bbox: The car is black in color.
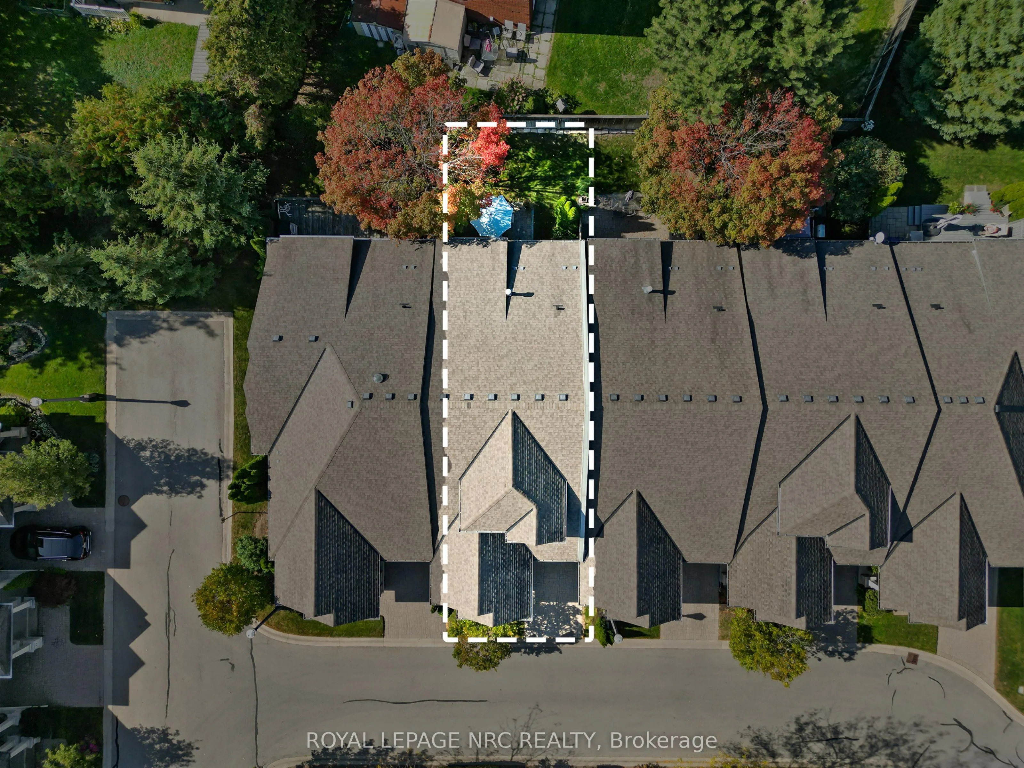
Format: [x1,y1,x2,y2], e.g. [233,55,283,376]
[10,522,96,564]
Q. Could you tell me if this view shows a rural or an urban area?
urban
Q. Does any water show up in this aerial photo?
No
